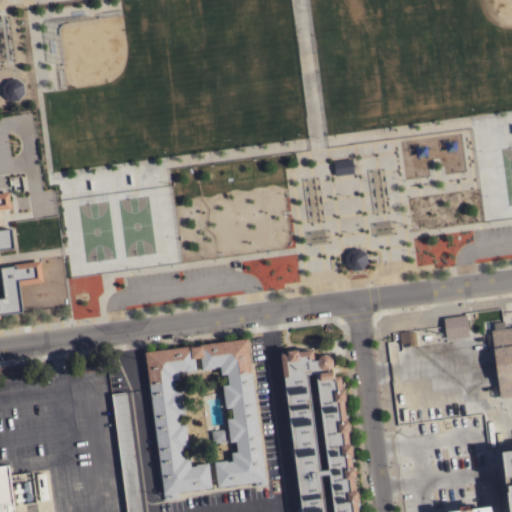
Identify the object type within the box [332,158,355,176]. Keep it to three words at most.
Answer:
building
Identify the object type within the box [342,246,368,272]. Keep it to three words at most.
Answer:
building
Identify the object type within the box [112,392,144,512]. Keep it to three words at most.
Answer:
shed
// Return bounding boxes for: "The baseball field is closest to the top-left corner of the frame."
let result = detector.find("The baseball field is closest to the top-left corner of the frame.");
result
[46,0,308,172]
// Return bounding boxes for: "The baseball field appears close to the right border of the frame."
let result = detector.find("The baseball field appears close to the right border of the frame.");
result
[310,0,512,138]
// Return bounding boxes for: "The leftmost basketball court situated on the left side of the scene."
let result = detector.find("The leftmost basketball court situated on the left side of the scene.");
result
[80,202,116,262]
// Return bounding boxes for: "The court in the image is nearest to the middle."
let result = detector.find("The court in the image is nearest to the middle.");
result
[120,197,156,258]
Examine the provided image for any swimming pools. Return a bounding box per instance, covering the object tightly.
[203,394,226,431]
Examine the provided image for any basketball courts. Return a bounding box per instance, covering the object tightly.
[80,202,116,262]
[502,148,512,206]
[120,197,156,258]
